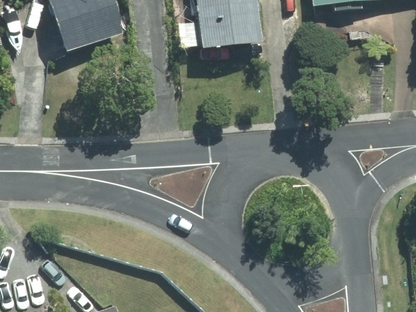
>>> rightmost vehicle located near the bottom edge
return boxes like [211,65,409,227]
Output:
[66,286,95,312]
